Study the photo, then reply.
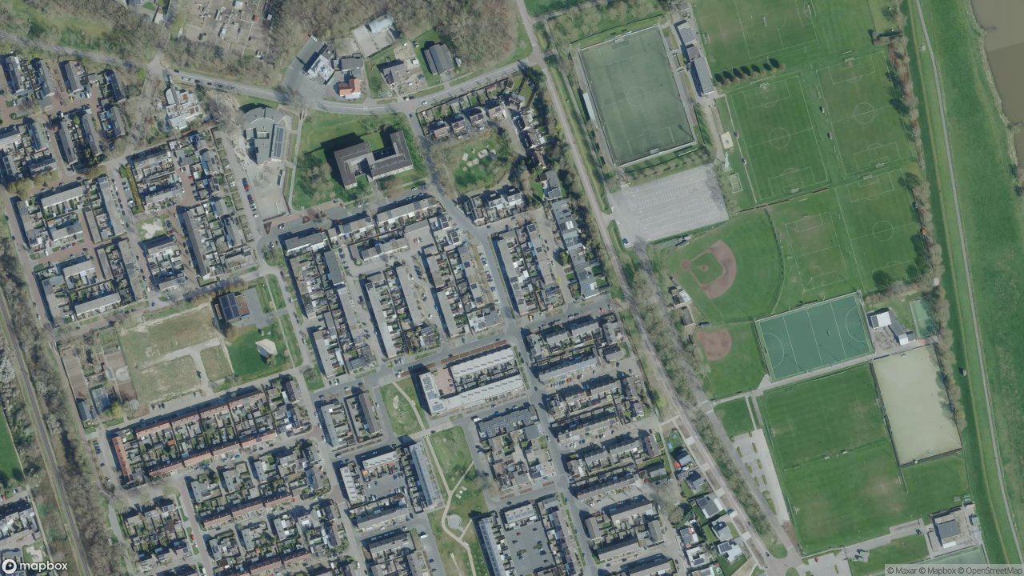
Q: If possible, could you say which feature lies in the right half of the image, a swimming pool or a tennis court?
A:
tennis court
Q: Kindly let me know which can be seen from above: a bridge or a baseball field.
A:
baseball field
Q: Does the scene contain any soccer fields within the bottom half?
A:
Yes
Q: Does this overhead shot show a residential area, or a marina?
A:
residential area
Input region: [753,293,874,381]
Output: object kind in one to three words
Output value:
sports field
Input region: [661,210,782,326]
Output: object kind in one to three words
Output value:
baseball field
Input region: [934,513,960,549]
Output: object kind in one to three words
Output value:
building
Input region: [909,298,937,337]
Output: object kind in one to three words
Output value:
tennis court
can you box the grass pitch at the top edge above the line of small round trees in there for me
[733,0,820,61]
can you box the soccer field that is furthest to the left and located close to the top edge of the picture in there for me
[580,26,698,165]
